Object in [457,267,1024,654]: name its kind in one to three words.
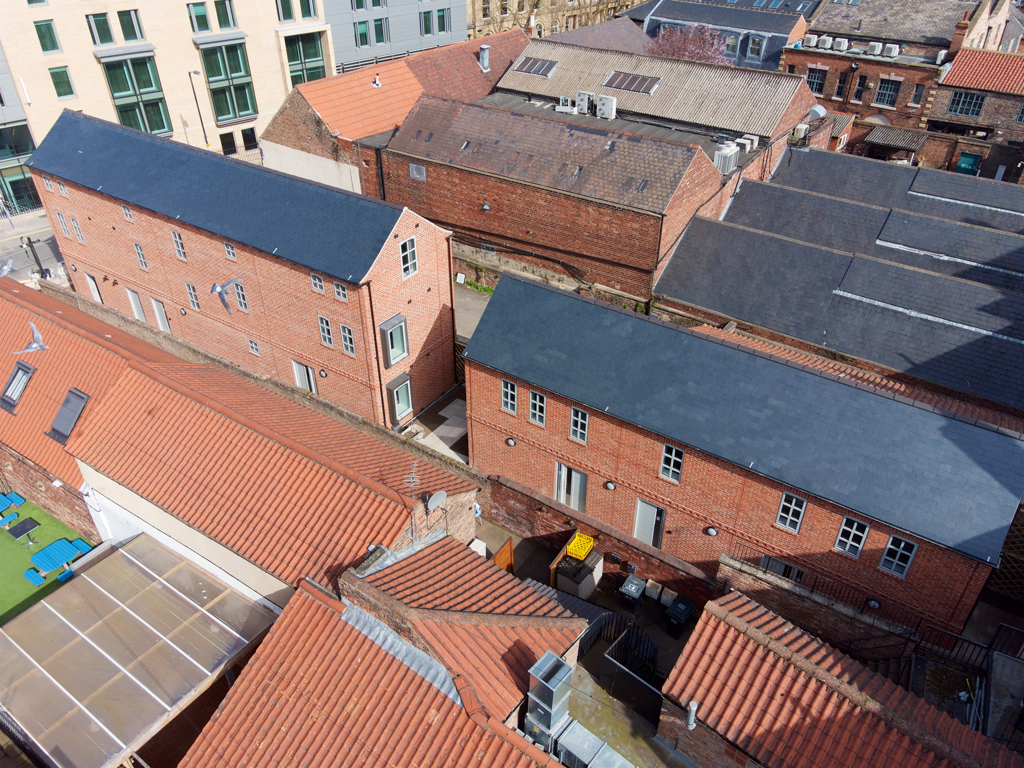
house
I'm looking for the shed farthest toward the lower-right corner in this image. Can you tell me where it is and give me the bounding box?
[657,589,1024,768]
